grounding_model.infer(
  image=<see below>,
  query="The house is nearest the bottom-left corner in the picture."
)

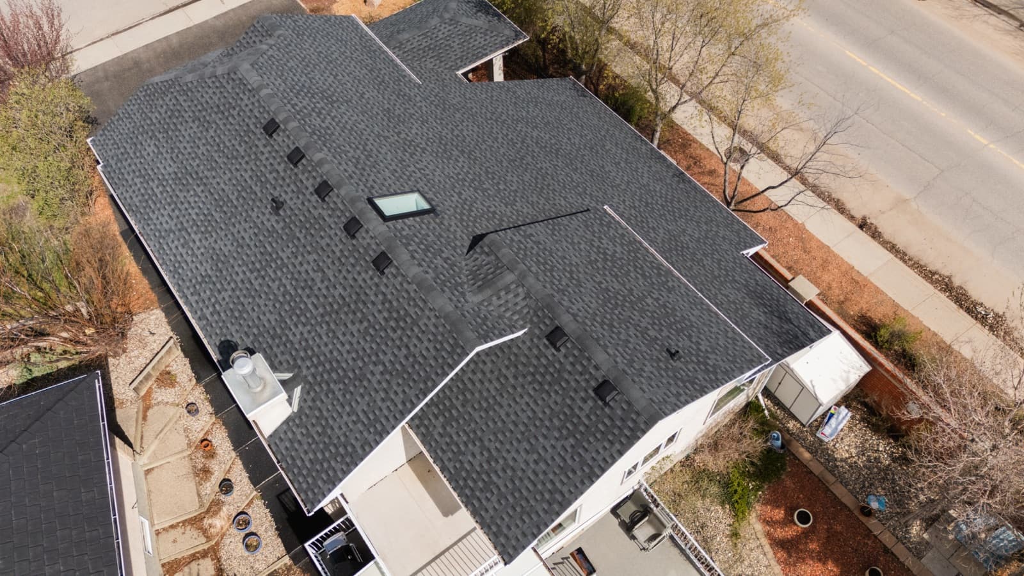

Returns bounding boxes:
[0,370,157,576]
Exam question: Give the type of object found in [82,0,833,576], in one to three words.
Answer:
house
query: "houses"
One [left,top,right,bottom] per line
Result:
[82,0,833,576]
[0,370,157,576]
